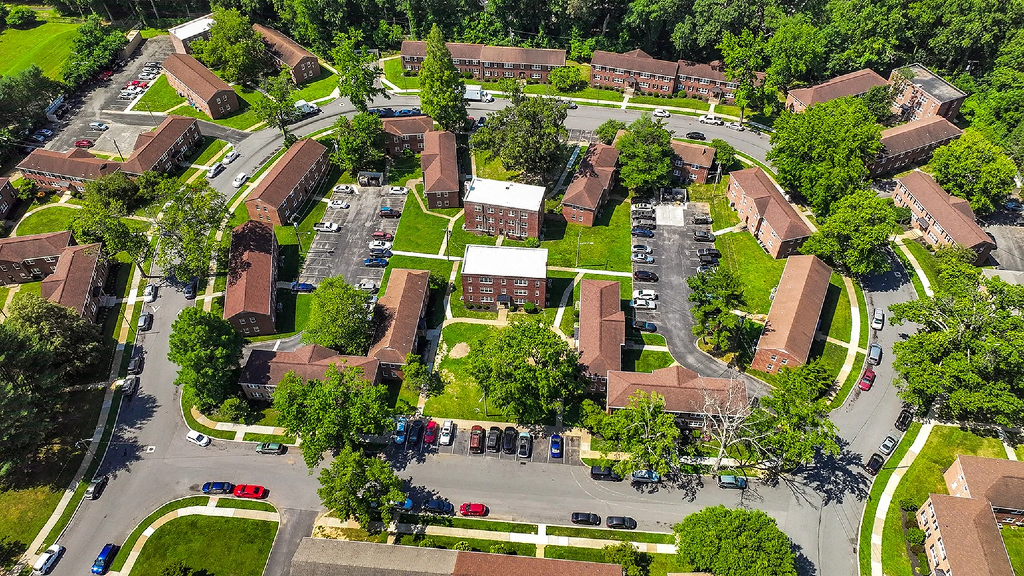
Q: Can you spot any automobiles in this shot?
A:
Yes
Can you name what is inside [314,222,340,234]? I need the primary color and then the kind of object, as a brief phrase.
white vehicle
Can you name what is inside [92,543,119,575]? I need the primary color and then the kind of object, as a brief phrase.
blue car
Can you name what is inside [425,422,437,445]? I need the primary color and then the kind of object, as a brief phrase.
red vehicle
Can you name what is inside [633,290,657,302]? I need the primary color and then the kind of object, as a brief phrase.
white vehicle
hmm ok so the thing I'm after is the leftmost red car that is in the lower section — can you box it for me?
[235,485,267,499]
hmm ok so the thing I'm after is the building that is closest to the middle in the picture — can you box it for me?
[461,244,549,315]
